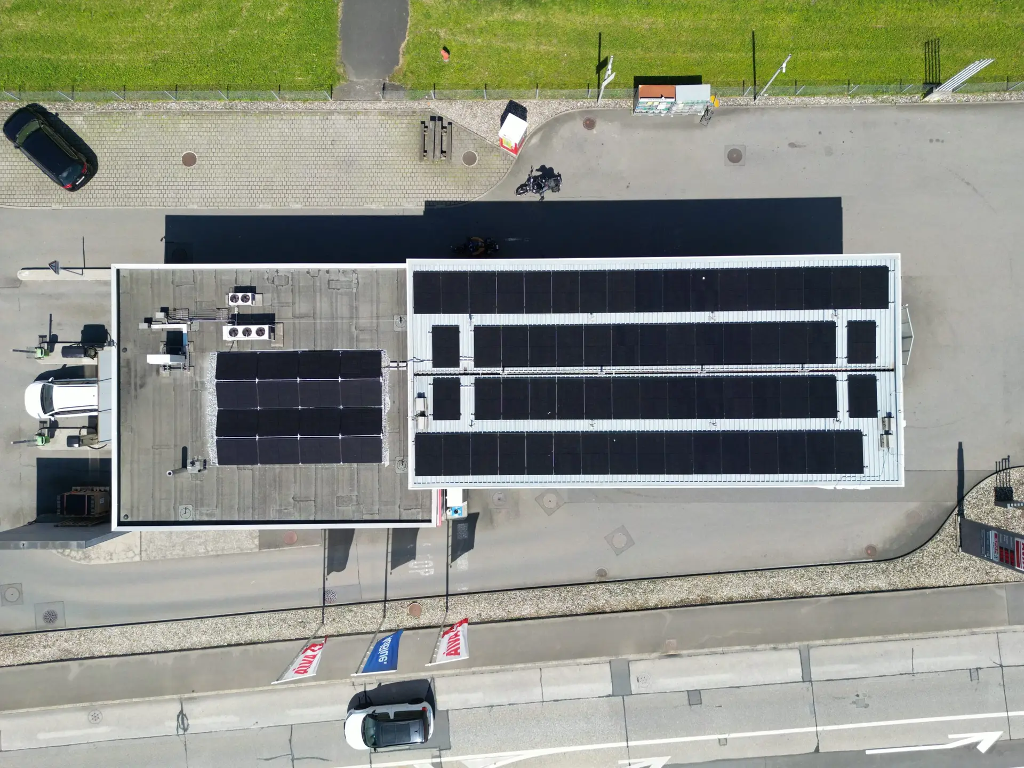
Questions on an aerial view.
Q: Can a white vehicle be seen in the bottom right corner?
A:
No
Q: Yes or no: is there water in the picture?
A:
No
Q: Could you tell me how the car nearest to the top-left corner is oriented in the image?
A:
diagonally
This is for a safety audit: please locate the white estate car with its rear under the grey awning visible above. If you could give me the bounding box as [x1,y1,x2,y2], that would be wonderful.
[24,375,112,426]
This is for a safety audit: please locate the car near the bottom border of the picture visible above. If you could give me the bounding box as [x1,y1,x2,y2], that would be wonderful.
[344,696,434,756]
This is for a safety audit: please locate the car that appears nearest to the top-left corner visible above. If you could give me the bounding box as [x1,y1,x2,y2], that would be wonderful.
[3,103,97,195]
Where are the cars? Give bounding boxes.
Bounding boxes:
[24,375,112,426]
[344,696,434,756]
[3,103,97,195]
